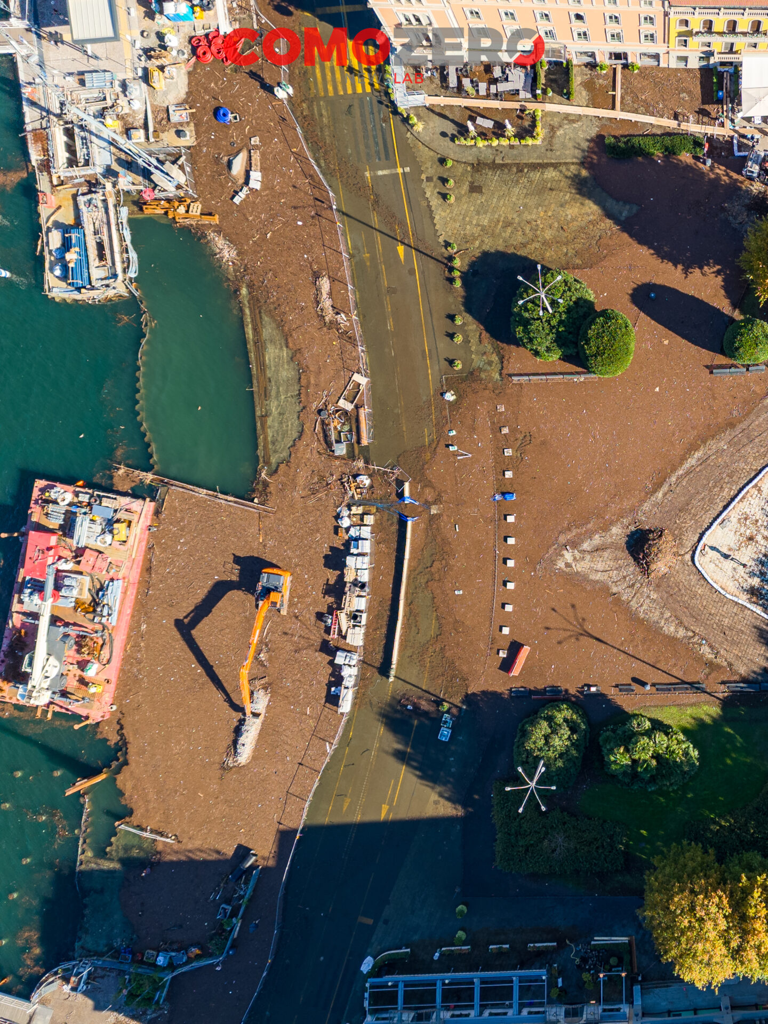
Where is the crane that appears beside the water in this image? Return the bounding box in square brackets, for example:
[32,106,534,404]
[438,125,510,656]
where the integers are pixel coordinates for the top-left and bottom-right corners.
[0,3,183,189]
